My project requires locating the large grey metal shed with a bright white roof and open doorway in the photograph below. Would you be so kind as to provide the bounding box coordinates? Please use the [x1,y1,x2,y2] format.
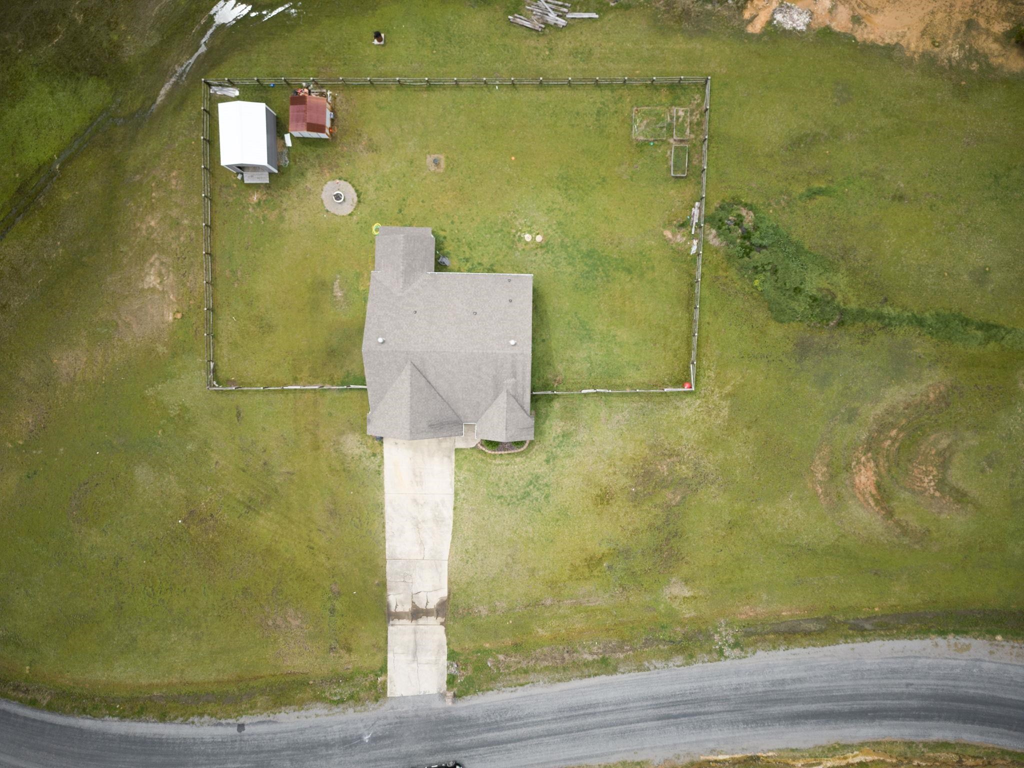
[218,100,277,173]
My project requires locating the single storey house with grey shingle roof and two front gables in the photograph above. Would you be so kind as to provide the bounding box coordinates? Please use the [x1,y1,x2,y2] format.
[362,227,534,441]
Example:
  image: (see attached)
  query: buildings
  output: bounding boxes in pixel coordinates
[362,227,534,441]
[289,95,331,139]
[218,100,277,173]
